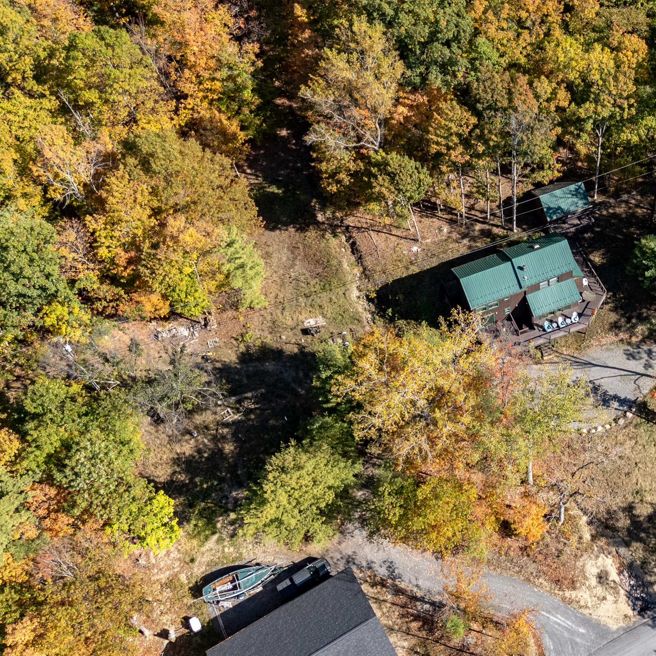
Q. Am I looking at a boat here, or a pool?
boat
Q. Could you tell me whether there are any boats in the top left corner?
No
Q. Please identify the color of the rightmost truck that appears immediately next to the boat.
black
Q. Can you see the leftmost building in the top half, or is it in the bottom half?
bottom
